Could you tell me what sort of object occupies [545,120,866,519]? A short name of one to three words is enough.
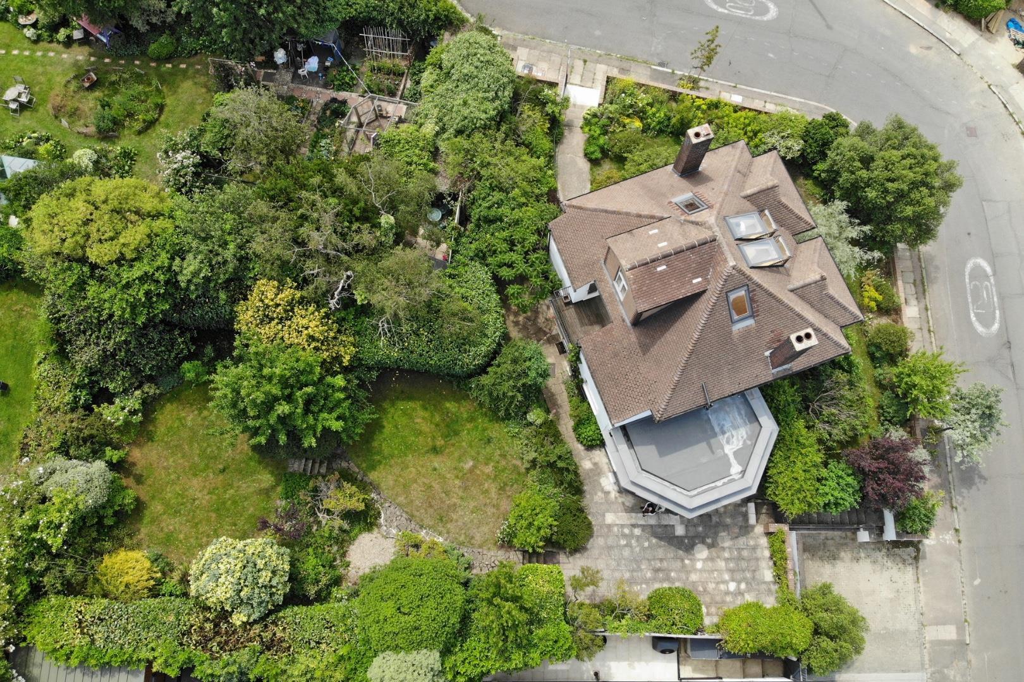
house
